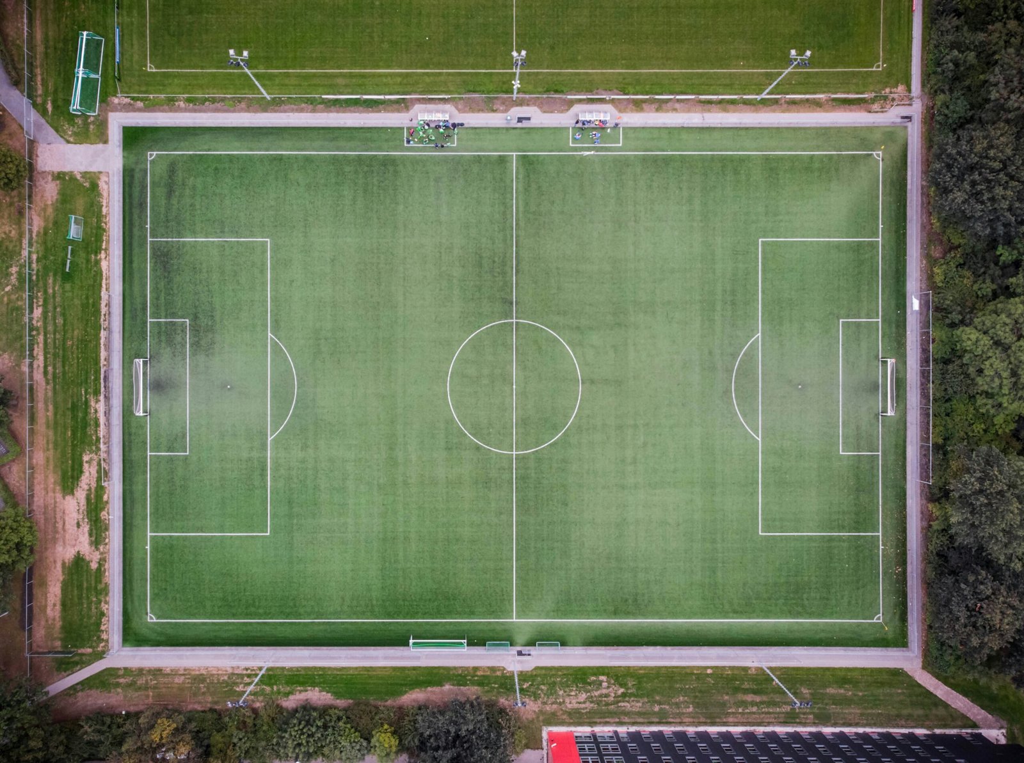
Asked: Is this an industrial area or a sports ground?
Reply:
sports ground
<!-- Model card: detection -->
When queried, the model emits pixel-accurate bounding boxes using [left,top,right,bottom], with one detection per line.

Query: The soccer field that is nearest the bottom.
[123,126,907,647]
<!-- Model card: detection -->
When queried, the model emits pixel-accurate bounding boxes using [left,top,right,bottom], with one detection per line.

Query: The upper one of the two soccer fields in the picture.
[120,0,912,96]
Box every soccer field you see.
[120,0,912,96]
[123,126,907,647]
